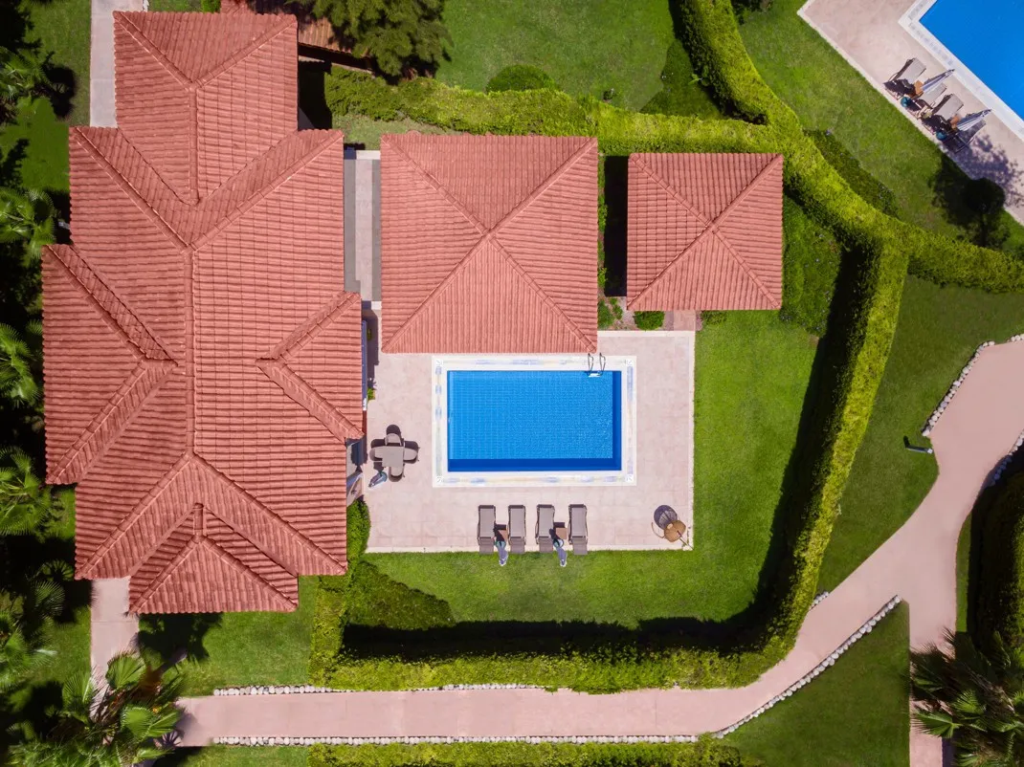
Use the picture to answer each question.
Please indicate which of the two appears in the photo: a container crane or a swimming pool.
swimming pool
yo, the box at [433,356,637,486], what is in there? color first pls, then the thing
blue swimming pool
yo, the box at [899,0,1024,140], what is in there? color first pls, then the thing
blue swimming pool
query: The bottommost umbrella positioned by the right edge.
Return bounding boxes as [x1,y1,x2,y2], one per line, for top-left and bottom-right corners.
[938,103,997,139]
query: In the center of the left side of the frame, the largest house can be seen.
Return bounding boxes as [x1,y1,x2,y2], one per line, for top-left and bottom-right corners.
[39,8,366,615]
